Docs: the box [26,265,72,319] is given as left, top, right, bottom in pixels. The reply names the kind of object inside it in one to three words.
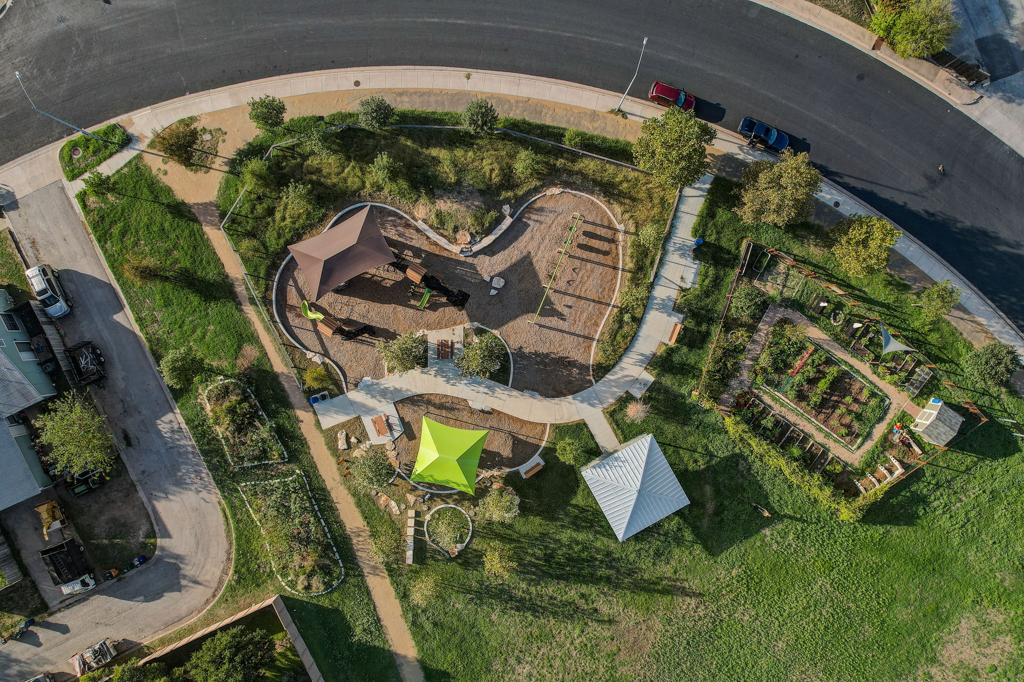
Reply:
car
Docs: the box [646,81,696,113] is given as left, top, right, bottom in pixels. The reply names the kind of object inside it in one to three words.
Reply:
car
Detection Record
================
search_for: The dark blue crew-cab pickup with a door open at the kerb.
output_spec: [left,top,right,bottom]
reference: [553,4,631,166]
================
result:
[732,116,789,153]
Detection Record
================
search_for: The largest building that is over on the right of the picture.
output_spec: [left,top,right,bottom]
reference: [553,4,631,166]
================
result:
[581,433,691,542]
